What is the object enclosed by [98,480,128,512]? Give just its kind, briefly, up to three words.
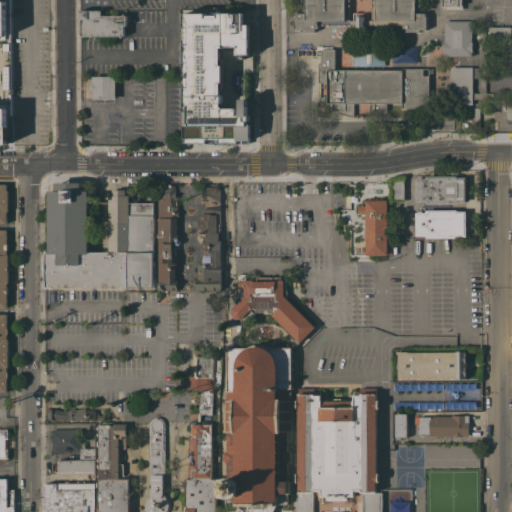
building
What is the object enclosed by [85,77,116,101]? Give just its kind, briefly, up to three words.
house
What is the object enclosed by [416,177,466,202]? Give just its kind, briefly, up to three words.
building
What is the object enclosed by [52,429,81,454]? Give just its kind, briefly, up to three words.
house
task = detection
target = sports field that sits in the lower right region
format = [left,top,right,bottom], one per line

[428,470,482,512]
